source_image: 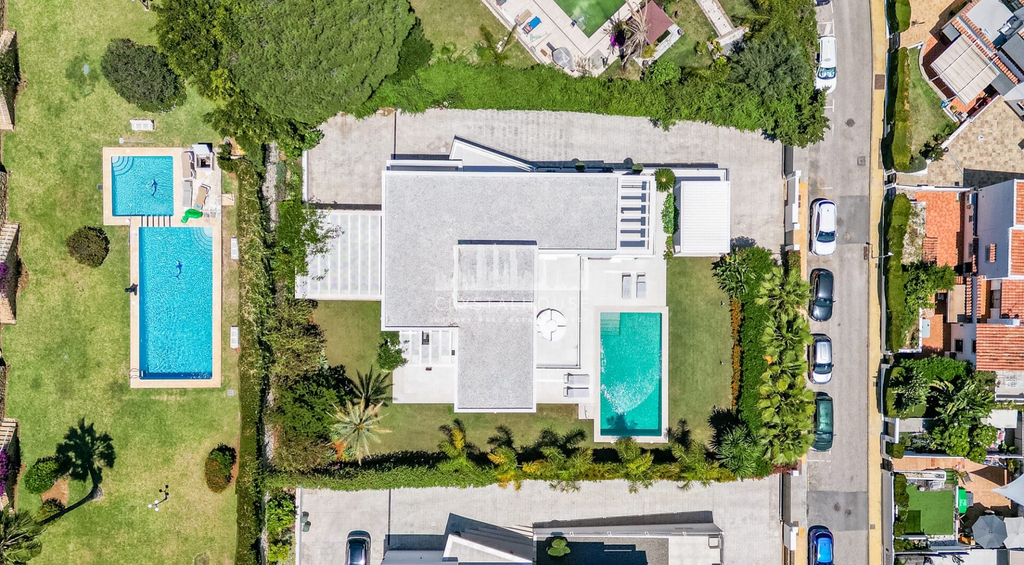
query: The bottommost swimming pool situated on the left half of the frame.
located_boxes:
[129,225,222,388]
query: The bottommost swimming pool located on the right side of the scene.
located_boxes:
[594,306,668,443]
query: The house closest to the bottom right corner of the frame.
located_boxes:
[941,323,1024,372]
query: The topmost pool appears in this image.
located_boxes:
[535,0,644,55]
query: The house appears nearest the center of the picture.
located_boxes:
[382,140,656,413]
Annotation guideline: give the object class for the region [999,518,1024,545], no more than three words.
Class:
umbrella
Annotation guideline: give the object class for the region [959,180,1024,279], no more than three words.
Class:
house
